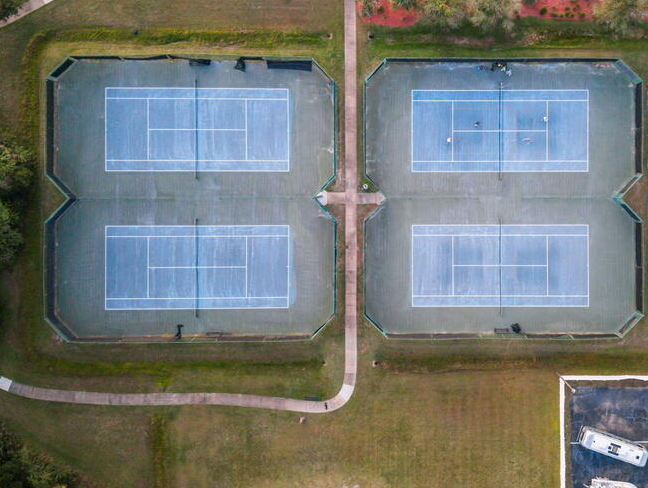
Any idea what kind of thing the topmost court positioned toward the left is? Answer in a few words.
tennis court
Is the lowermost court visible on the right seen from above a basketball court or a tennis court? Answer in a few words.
tennis court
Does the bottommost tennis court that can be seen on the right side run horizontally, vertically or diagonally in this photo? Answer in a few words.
horizontally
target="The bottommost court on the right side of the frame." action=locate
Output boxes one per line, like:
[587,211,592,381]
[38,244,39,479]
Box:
[367,198,633,333]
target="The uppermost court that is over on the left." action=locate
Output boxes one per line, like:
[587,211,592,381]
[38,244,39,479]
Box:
[59,64,335,198]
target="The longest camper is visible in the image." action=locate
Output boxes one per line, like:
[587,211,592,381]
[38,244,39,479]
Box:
[573,423,647,468]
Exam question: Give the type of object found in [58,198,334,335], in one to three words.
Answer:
tennis court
